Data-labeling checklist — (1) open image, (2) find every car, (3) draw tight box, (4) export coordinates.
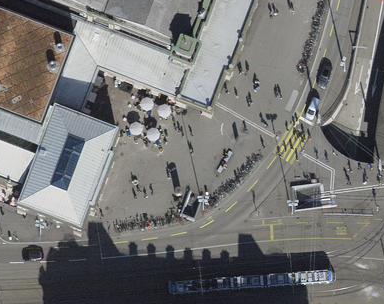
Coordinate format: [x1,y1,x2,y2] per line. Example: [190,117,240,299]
[306,98,320,122]
[318,62,332,86]
[23,248,44,258]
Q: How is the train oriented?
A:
from left to right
